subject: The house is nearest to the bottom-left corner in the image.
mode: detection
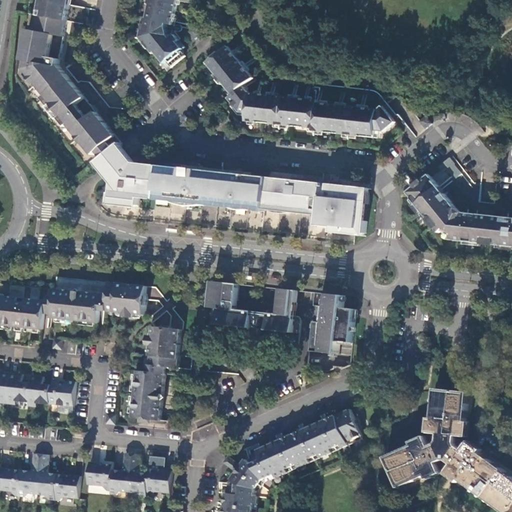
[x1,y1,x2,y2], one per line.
[0,454,85,505]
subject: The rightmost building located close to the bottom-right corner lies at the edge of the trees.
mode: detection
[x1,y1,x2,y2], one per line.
[380,388,512,512]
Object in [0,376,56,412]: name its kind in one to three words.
house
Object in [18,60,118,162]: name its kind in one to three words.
building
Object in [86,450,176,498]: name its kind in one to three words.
house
